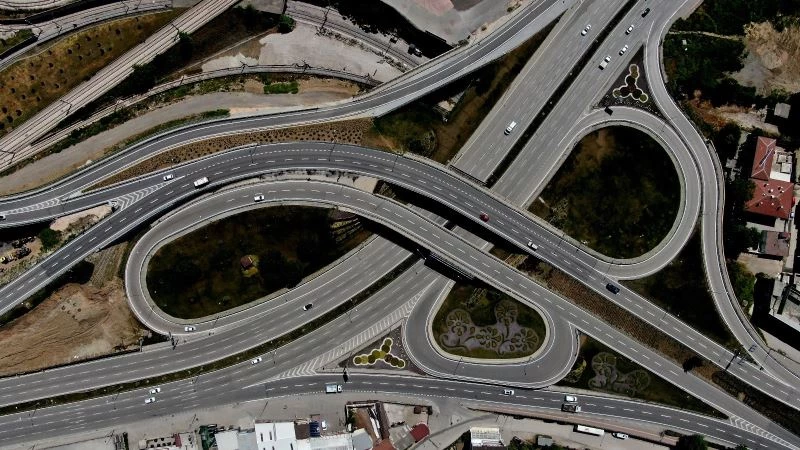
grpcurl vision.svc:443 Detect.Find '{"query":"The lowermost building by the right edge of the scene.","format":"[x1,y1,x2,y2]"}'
[748,276,800,338]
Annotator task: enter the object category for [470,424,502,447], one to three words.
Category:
building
